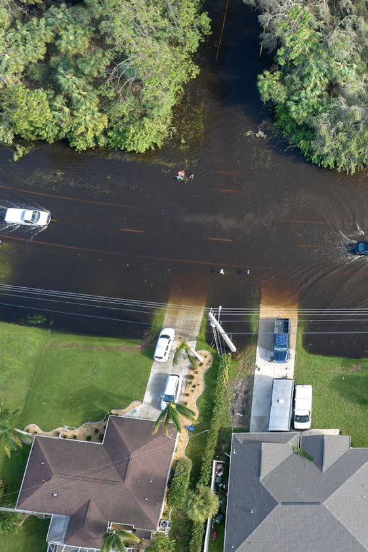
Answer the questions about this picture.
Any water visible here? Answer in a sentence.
Yes, the picture does contain water.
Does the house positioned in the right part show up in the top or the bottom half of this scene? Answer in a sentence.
It is in the bottom half that the house positioned in the right part appears.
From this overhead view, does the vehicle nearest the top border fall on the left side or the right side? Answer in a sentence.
The vehicle nearest the top border appears in the left half of the scene.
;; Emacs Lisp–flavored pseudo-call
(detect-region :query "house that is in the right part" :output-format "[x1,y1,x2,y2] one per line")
[225,433,368,552]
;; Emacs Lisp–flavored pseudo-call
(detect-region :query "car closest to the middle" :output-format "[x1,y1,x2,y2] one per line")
[151,327,177,362]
